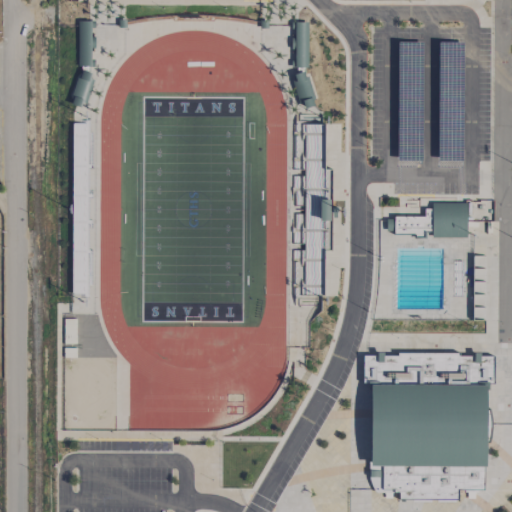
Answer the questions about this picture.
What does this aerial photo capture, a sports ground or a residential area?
sports ground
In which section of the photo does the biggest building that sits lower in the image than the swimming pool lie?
bottom right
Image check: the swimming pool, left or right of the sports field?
to the right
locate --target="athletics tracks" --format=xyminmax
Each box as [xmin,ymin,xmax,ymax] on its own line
[101,31,288,428]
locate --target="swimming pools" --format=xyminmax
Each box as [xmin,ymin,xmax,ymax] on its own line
[397,248,444,310]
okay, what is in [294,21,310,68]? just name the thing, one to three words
building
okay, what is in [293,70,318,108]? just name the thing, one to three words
building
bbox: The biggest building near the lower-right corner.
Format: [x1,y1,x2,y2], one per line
[364,353,496,500]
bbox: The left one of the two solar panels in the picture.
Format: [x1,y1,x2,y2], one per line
[400,42,425,160]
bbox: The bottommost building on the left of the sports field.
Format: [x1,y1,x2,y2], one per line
[72,69,96,107]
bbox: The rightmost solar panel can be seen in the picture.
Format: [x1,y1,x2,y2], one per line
[440,42,465,160]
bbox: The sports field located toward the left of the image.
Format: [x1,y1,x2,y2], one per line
[122,92,267,327]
